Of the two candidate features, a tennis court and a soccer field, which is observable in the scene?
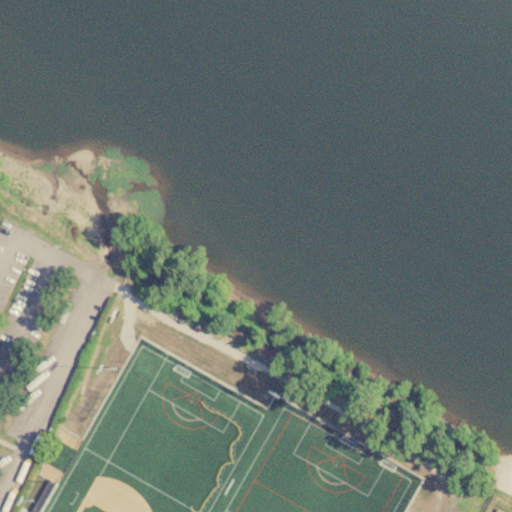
soccer field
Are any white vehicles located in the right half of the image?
No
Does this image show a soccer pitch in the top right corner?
No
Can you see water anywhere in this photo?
Yes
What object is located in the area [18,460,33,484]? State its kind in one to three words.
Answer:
vehicle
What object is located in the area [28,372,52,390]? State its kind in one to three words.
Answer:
vehicle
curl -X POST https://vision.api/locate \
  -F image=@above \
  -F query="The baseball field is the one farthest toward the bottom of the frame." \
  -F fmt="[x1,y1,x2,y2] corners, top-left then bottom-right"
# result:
[77,476,153,512]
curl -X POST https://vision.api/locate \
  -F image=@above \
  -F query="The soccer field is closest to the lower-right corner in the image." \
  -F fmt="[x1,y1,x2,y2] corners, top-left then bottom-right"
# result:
[221,402,422,512]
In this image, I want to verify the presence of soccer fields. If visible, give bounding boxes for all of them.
[221,402,422,512]
[44,342,276,512]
